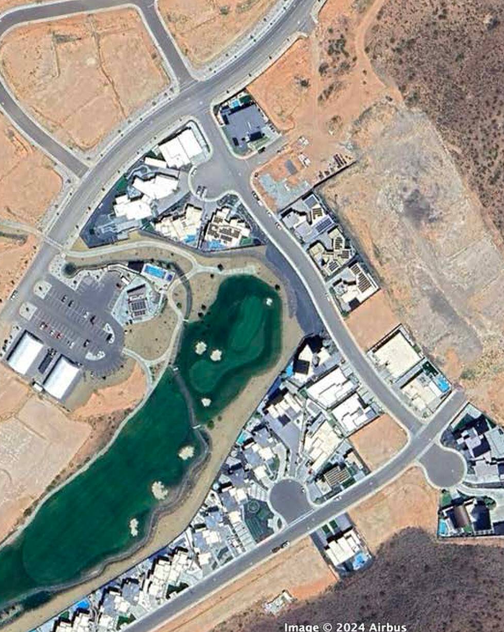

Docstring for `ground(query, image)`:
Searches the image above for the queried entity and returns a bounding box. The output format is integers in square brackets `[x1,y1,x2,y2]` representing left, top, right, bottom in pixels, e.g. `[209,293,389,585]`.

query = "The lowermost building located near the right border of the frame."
[442,500,504,535]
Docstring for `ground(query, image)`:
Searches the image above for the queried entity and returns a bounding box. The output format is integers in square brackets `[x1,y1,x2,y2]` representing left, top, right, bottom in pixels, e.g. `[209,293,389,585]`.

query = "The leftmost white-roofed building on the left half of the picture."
[7,332,43,375]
